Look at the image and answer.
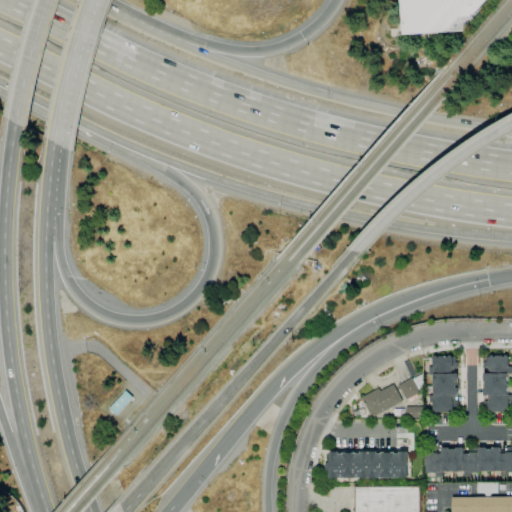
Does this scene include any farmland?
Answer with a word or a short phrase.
No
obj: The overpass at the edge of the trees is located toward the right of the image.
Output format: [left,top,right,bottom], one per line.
[277,86,448,272]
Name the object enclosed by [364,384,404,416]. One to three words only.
house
